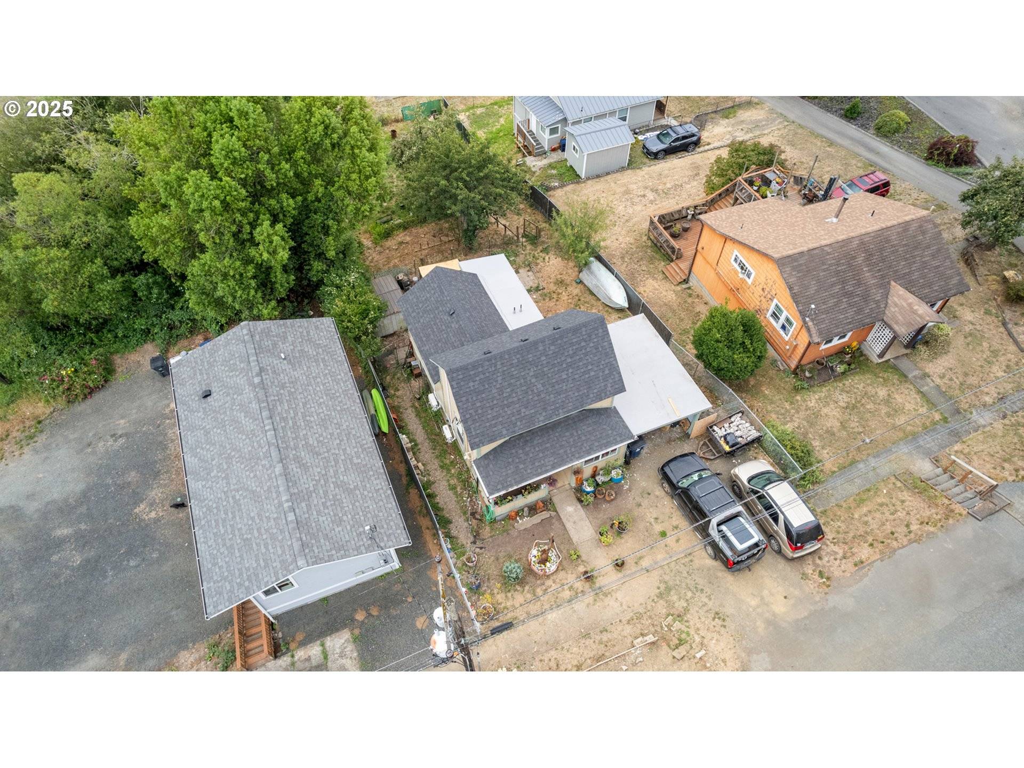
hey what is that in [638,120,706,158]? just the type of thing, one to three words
car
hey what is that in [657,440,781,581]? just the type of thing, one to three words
truck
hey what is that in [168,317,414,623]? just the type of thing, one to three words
house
